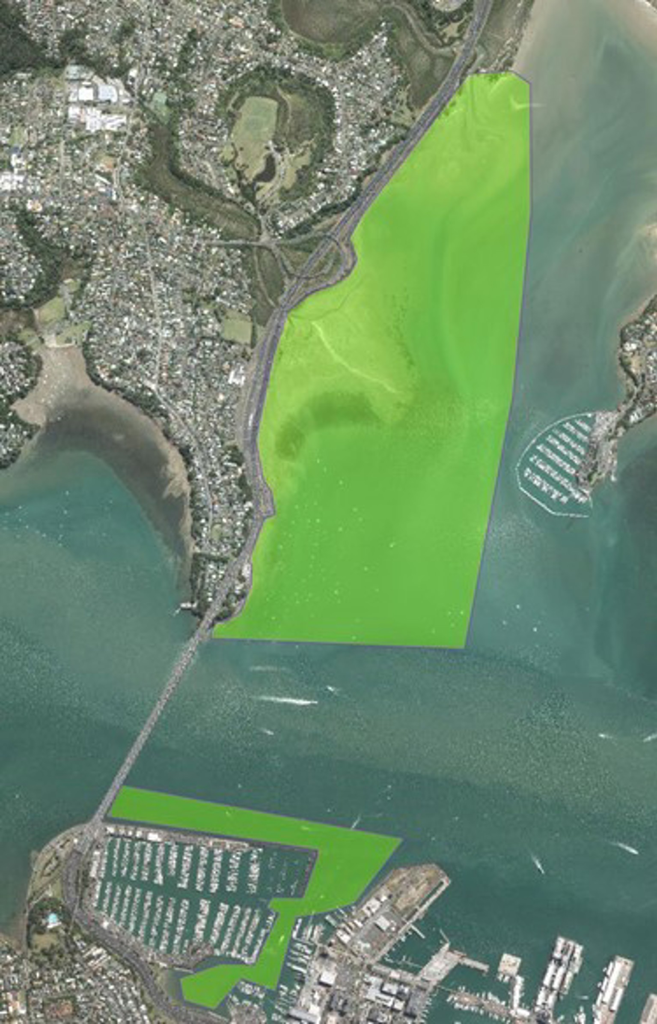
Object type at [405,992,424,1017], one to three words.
building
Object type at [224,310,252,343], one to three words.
sports field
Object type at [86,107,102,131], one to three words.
building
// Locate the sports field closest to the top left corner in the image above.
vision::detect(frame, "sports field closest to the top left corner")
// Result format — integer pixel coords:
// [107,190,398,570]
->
[232,96,278,176]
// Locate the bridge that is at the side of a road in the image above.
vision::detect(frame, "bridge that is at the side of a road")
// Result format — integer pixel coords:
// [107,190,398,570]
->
[91,616,212,824]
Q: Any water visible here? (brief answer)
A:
Yes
